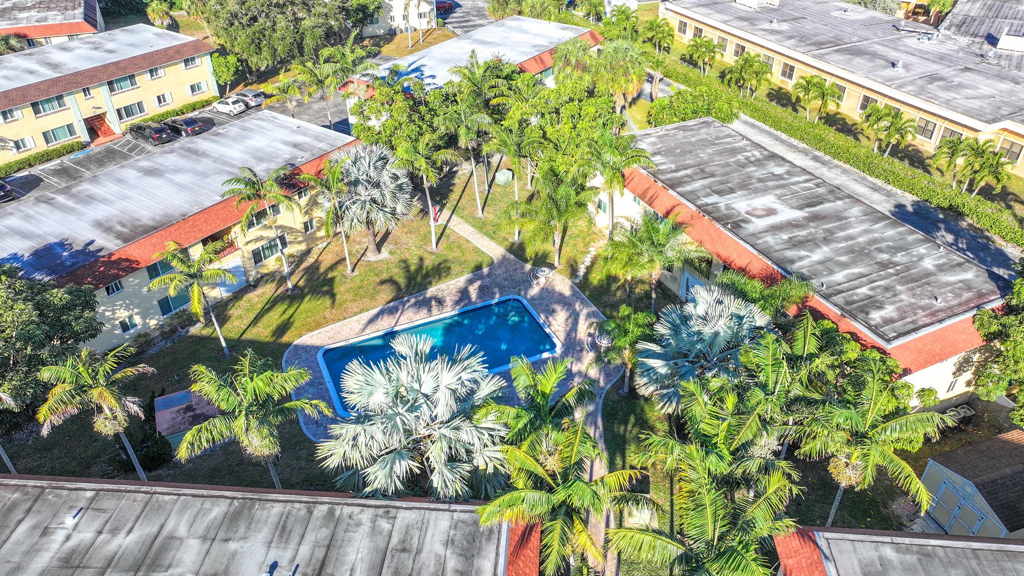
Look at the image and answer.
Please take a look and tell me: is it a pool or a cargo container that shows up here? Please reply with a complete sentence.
This aerial view contains a pool.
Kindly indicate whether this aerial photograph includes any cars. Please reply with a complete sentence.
Yes, a car is visible in the scene.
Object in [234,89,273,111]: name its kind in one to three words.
car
